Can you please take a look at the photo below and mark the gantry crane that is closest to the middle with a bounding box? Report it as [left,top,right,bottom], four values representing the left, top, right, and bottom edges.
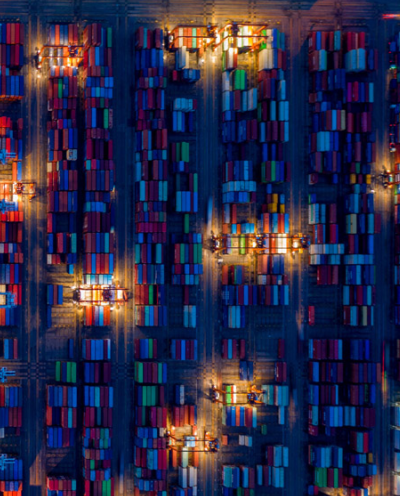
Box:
[212,235,271,253]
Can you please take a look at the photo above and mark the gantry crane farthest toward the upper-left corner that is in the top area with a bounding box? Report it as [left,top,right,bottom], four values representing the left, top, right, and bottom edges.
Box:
[35,44,86,70]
